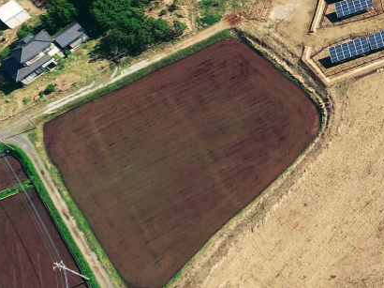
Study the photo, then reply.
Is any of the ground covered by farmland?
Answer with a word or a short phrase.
Yes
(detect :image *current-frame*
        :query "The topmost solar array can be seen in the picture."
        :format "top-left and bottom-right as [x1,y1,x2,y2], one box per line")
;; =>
[334,0,375,19]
